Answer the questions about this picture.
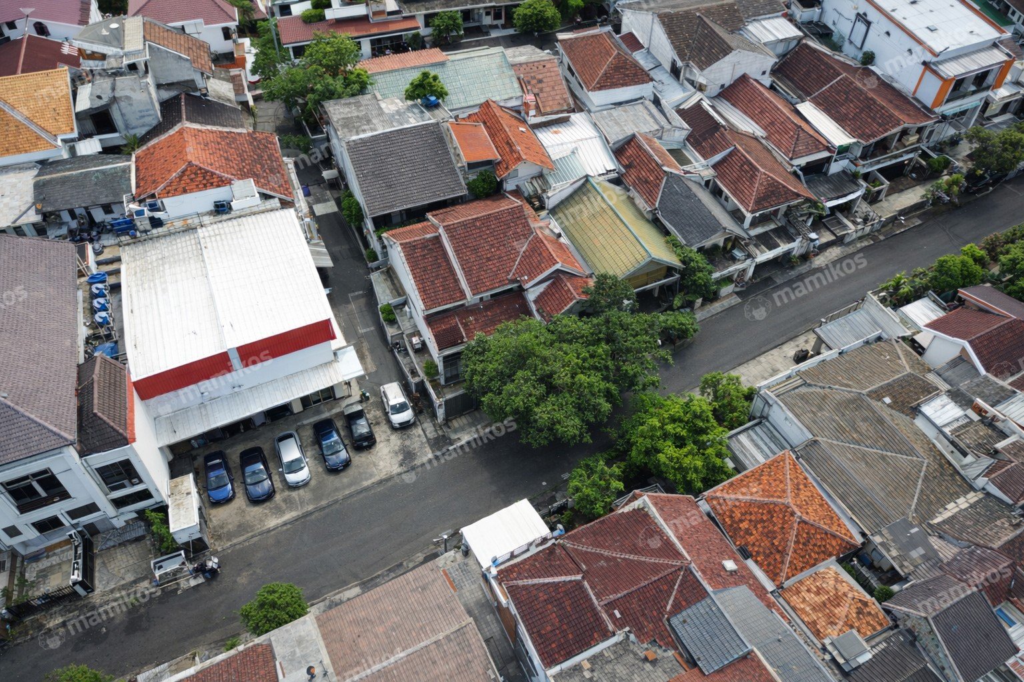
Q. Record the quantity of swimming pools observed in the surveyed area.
0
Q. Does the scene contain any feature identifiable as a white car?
Yes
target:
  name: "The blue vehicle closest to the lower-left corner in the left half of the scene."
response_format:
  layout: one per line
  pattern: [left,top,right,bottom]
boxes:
[202,452,234,505]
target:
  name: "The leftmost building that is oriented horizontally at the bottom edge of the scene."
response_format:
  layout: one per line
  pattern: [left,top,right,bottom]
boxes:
[158,610,336,682]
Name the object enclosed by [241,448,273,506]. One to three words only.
car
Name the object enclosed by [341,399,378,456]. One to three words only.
car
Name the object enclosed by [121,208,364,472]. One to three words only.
building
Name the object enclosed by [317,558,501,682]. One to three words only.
house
